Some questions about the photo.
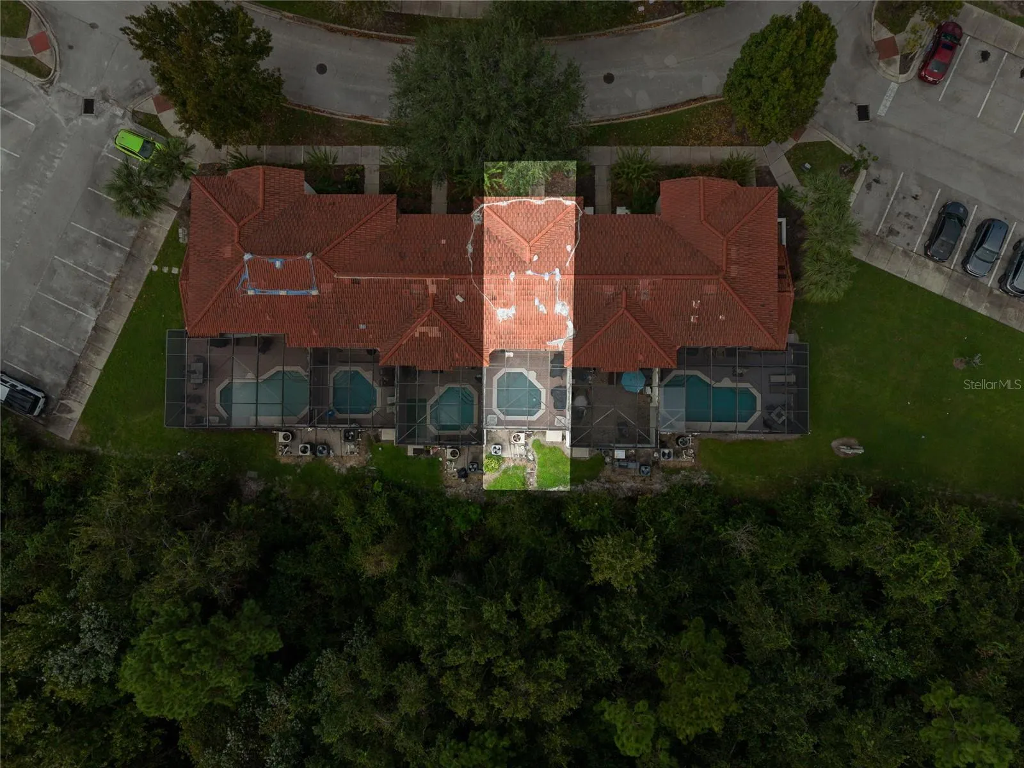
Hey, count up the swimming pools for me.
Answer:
5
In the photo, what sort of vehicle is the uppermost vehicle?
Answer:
car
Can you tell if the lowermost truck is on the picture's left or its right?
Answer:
left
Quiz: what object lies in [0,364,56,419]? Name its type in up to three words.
truck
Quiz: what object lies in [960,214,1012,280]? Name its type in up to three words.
car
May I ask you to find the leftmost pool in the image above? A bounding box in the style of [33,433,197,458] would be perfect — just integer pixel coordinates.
[215,366,310,420]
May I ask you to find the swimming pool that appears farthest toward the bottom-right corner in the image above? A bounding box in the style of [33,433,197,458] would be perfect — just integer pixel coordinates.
[661,371,762,427]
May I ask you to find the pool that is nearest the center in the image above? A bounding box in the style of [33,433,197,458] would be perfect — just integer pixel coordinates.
[493,368,545,421]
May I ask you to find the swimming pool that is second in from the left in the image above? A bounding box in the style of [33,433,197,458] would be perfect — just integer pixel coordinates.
[330,367,380,418]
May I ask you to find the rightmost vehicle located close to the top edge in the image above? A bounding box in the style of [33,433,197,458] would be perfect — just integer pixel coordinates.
[915,19,965,88]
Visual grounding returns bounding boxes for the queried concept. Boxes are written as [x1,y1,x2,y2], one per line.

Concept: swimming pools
[215,366,310,420]
[661,371,762,427]
[330,367,380,418]
[493,368,545,421]
[427,384,479,435]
